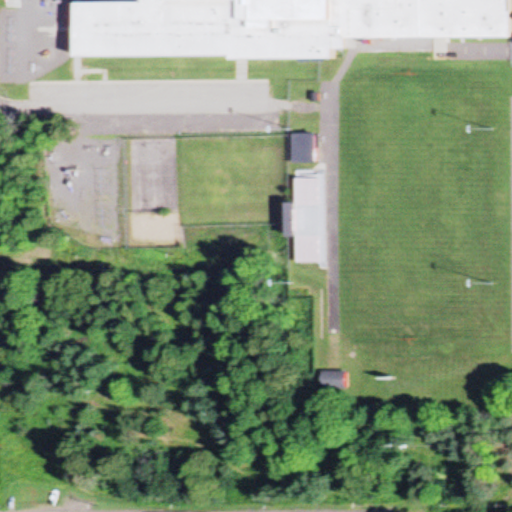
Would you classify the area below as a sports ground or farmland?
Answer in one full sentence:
This looks like a sports ground.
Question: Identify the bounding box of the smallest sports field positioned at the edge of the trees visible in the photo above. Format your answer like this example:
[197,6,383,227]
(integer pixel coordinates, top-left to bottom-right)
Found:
[184,138,284,224]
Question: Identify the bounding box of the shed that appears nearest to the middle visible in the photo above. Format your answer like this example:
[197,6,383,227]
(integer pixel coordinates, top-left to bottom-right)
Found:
[290,134,316,162]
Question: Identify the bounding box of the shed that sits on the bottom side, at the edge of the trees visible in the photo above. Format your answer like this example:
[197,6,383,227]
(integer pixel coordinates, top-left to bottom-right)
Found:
[319,371,347,388]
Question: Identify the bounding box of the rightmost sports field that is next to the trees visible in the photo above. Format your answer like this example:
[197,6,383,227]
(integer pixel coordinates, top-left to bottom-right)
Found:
[338,60,512,408]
